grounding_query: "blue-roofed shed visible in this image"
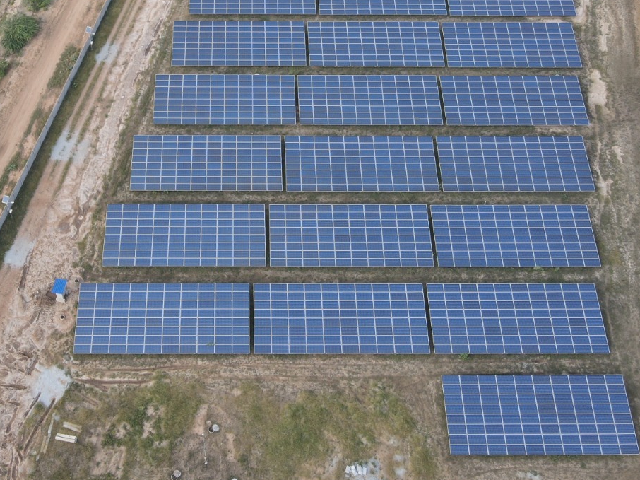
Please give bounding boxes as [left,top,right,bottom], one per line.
[51,277,68,306]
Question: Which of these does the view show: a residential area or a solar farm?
solar farm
